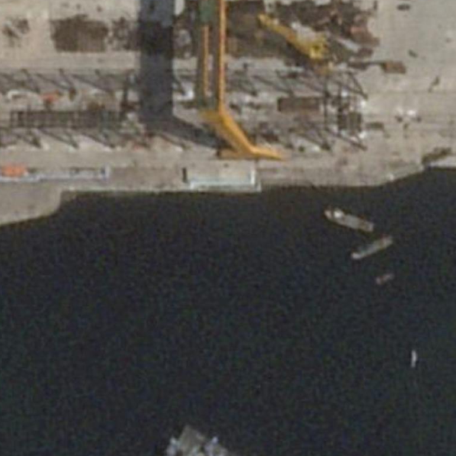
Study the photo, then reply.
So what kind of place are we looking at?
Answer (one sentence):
What you see here is a port.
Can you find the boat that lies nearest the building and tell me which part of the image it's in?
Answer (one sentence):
Look in the right portion of the view to spot the boat that lies nearest the building.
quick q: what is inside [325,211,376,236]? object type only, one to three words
boat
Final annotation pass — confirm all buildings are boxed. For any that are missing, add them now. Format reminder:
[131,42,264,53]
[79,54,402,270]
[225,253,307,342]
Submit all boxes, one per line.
[186,167,256,187]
